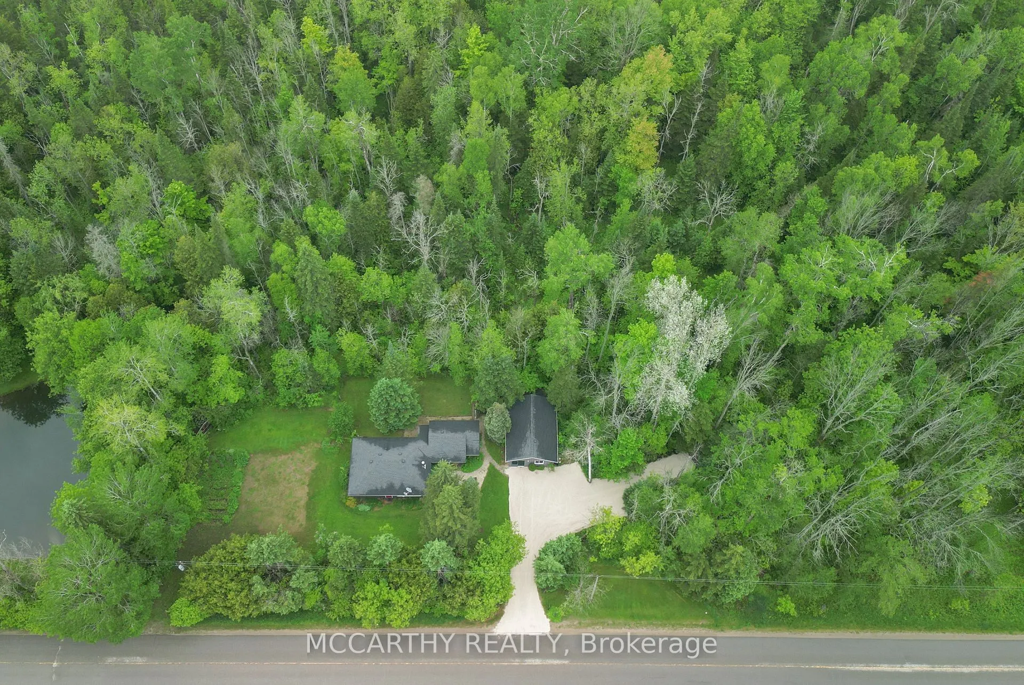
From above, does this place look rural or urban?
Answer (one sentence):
This place is rural.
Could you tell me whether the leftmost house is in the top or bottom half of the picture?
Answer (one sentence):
The leftmost house sits in the bottom half of the picture.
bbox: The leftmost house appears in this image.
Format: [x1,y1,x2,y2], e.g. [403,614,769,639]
[344,420,480,500]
